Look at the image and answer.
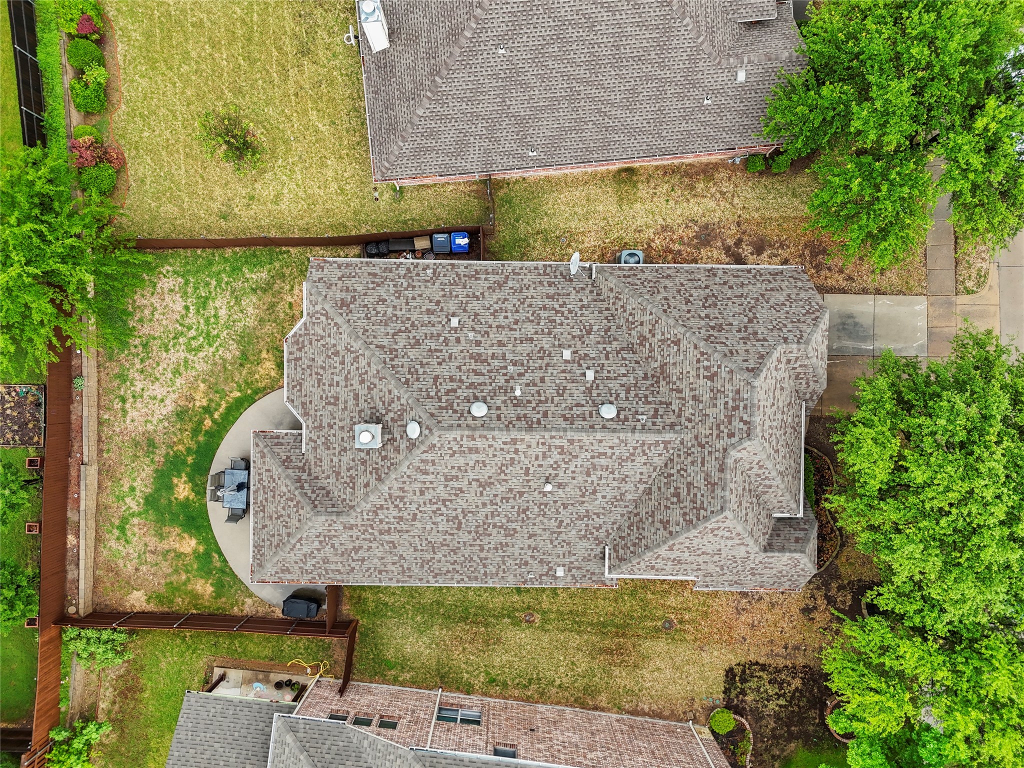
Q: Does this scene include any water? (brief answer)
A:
No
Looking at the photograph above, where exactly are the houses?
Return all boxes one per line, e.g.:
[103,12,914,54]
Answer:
[250,258,829,591]
[167,673,731,768]
[359,0,810,190]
